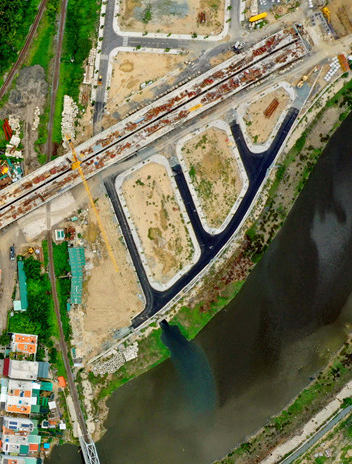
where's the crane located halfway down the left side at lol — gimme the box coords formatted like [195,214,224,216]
[61,132,119,272]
